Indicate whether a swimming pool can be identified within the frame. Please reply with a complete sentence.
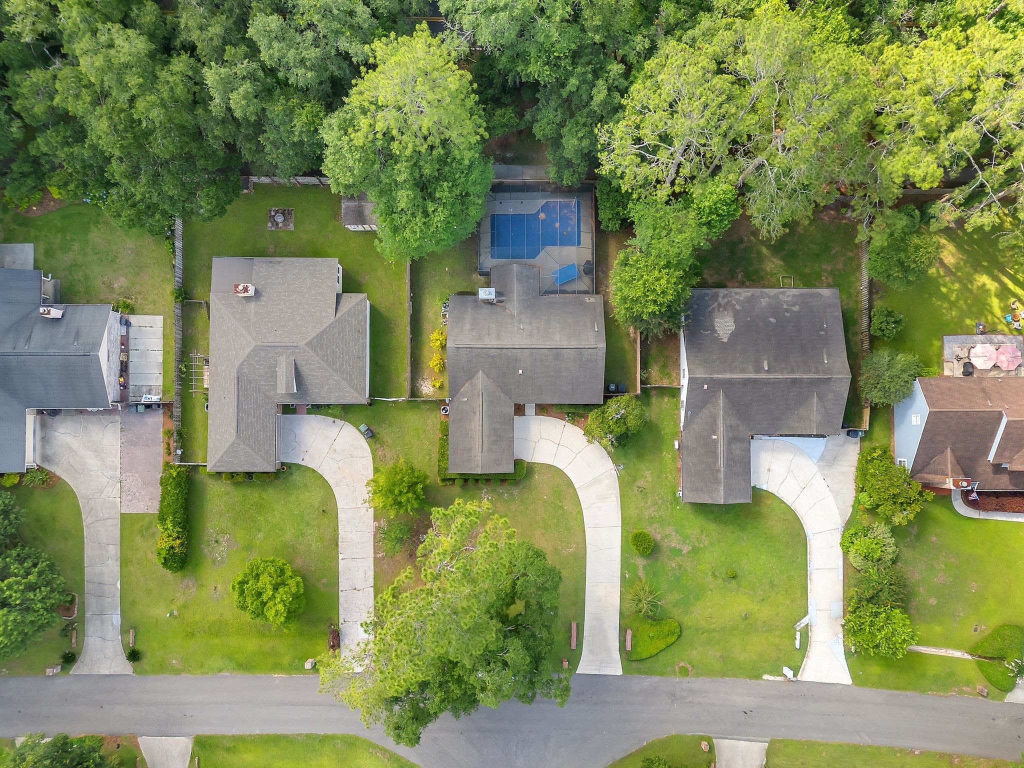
Yes, there's a swimming pool here.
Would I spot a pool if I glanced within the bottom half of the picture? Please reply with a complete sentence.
No, the scene shows no pool within the bottom half of the picture.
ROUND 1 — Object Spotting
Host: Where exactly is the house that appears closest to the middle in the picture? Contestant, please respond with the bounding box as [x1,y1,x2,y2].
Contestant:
[446,264,606,473]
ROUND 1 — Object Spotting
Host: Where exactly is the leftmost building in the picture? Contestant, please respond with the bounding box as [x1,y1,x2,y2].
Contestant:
[0,268,122,474]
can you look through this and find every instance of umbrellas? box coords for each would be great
[965,344,995,369]
[996,345,1021,369]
